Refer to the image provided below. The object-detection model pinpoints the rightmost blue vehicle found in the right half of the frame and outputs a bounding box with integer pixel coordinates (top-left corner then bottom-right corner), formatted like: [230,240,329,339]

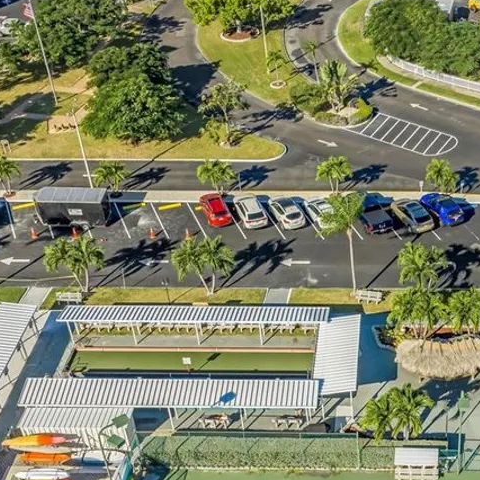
[423,195,464,229]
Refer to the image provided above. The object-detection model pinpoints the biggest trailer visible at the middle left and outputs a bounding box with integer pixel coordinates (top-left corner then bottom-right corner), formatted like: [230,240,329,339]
[28,180,106,223]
